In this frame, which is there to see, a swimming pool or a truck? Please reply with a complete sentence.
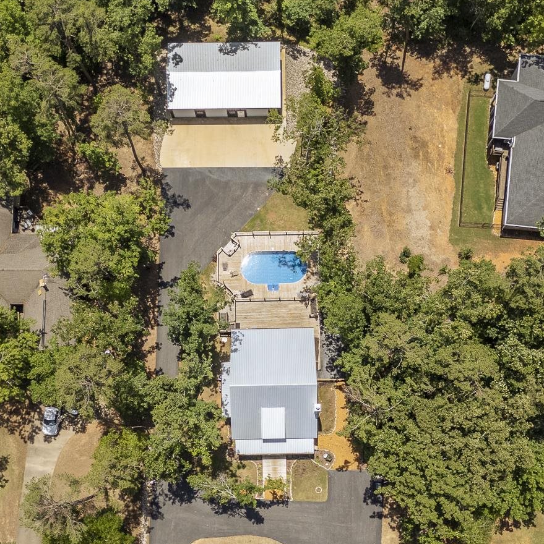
Looking from above, you can make out a swimming pool.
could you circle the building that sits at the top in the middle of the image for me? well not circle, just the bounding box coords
[168,42,282,117]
